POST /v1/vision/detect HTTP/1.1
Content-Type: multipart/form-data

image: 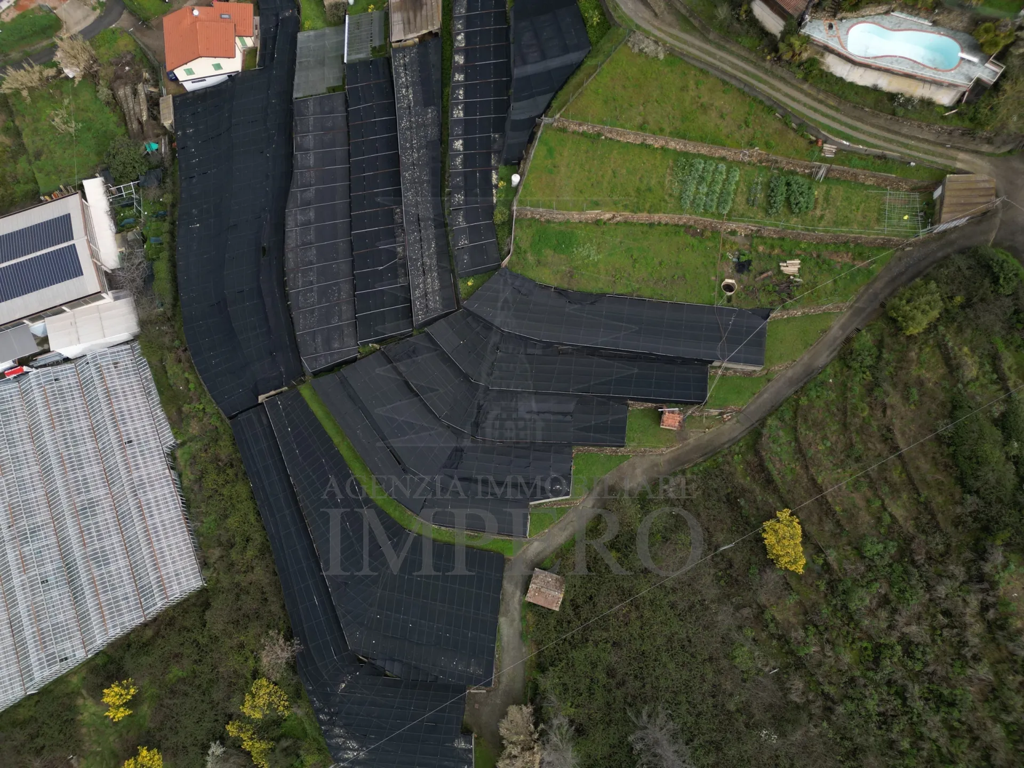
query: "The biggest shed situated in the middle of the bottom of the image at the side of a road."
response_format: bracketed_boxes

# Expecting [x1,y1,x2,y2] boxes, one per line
[525,568,564,611]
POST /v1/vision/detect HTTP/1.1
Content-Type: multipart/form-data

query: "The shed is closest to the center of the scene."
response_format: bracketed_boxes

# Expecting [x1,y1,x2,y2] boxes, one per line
[658,408,683,432]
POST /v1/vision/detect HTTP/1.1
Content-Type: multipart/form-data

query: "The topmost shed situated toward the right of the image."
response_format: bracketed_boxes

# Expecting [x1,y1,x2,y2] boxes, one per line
[751,0,808,47]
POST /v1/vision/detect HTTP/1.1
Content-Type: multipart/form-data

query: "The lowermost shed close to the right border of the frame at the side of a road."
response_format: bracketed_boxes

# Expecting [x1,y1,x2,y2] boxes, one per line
[936,175,996,225]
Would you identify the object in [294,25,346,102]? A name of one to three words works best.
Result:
greenhouse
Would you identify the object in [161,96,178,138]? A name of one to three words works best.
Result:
shed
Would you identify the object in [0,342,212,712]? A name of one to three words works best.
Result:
greenhouse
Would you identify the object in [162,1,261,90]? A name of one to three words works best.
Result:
house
